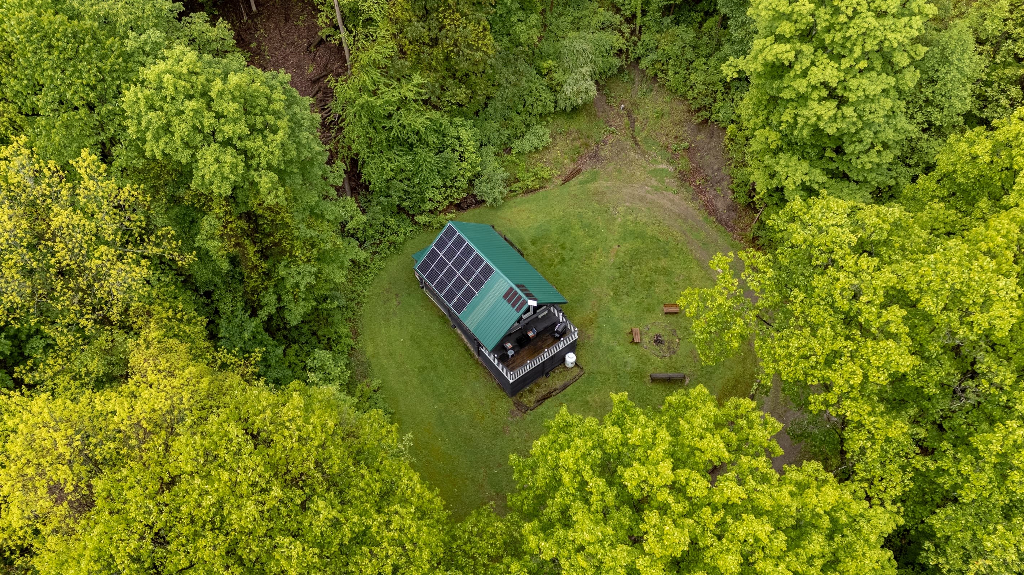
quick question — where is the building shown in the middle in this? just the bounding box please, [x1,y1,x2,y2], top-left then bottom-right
[412,219,577,398]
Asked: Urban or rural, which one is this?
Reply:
rural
